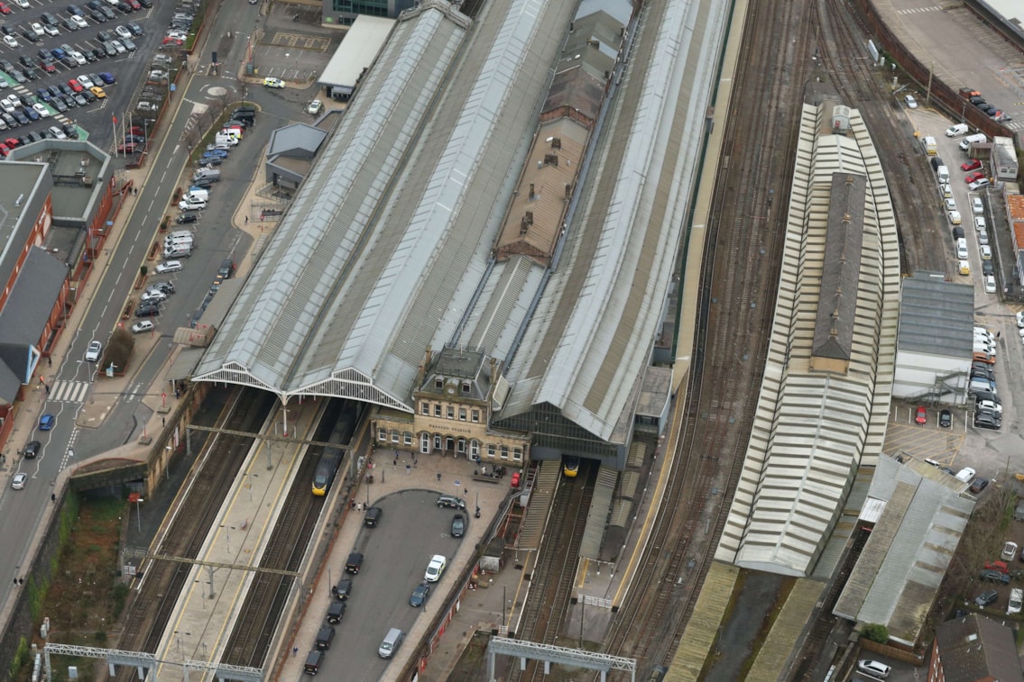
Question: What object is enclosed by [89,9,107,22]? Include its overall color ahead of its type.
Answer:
gray vehicle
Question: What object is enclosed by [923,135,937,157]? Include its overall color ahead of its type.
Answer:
white vehicle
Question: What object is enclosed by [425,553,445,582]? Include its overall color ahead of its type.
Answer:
white vehicle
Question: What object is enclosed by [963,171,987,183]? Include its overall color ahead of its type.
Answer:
red vehicle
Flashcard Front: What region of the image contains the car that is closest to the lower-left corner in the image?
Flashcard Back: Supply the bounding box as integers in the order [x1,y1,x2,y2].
[12,472,27,491]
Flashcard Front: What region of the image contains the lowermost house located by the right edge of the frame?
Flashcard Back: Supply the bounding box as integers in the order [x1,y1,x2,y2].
[933,613,1023,682]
